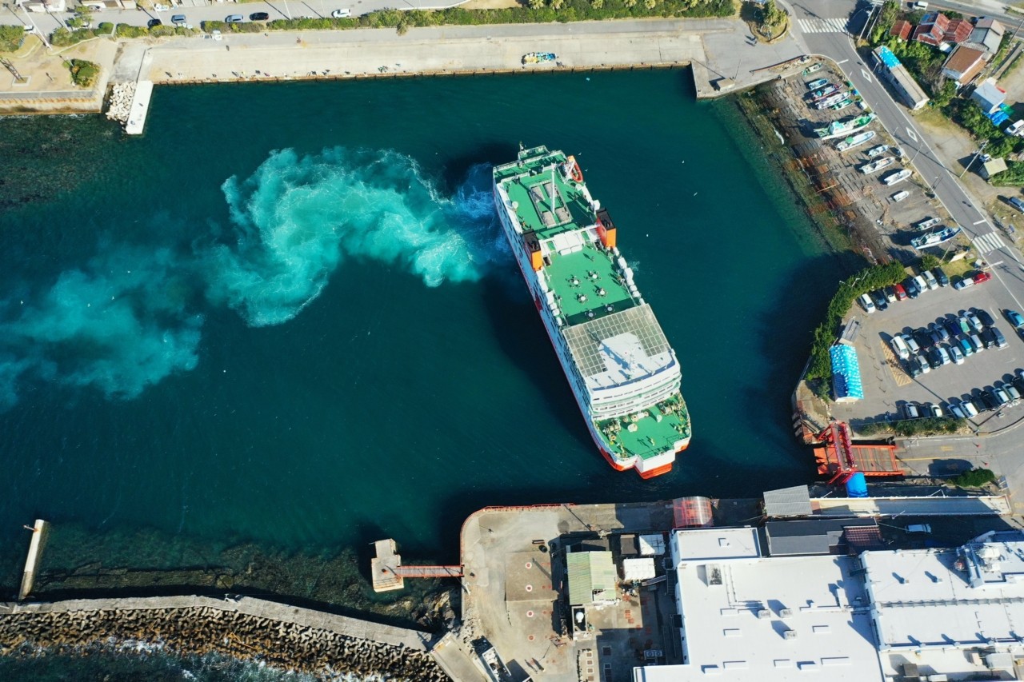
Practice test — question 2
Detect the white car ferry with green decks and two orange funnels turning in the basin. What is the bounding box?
[494,139,692,481]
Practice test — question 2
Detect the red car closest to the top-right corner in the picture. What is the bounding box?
[973,271,994,285]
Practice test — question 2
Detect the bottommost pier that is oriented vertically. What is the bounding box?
[19,520,52,600]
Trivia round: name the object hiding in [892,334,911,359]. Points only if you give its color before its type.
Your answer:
white vehicle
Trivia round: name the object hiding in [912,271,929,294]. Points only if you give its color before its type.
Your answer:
white vehicle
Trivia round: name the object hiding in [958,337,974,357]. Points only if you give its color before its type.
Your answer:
blue car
